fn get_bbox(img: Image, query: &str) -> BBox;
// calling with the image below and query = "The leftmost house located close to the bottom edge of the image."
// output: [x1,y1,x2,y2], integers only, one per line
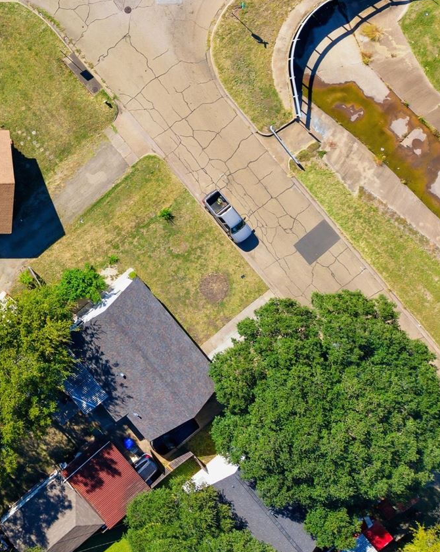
[0,471,104,552]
